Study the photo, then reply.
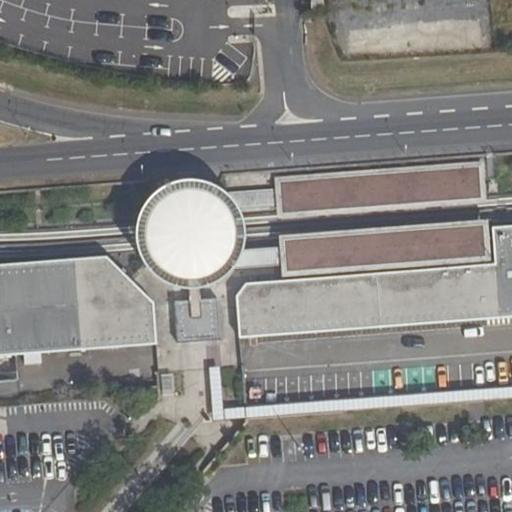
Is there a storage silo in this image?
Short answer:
No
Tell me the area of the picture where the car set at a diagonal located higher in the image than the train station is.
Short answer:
top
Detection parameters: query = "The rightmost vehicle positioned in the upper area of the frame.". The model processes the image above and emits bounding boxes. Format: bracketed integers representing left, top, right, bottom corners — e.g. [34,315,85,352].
[216,53,238,73]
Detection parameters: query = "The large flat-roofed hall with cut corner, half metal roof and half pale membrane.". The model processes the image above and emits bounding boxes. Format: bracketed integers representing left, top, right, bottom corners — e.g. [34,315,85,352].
[0,256,156,366]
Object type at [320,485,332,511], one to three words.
vehicle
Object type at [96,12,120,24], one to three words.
vehicle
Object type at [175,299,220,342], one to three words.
building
